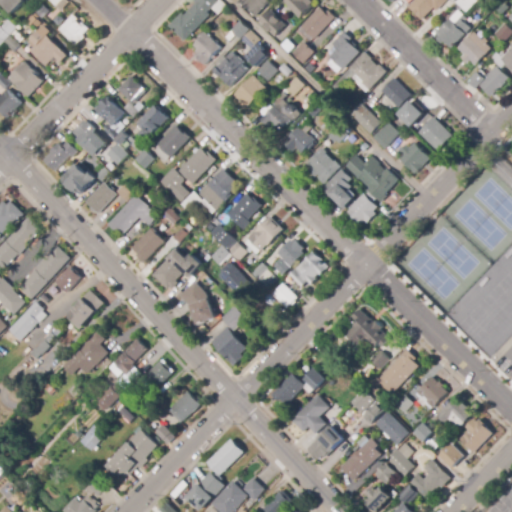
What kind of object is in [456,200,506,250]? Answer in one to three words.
tennis court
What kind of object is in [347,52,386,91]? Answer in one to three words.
house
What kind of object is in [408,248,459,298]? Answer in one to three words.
tennis court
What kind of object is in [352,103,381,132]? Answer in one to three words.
building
